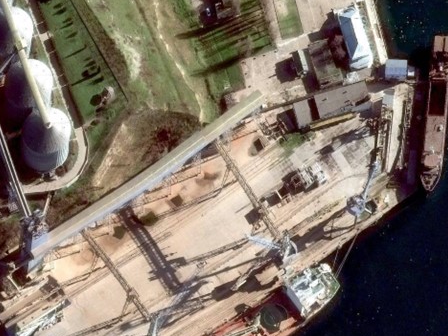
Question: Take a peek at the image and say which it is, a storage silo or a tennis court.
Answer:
storage silo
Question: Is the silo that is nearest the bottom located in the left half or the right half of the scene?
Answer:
left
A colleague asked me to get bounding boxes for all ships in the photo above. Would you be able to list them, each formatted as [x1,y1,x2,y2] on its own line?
[196,260,339,336]
[421,36,448,193]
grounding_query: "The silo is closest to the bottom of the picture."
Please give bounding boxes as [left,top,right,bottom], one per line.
[20,109,72,170]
